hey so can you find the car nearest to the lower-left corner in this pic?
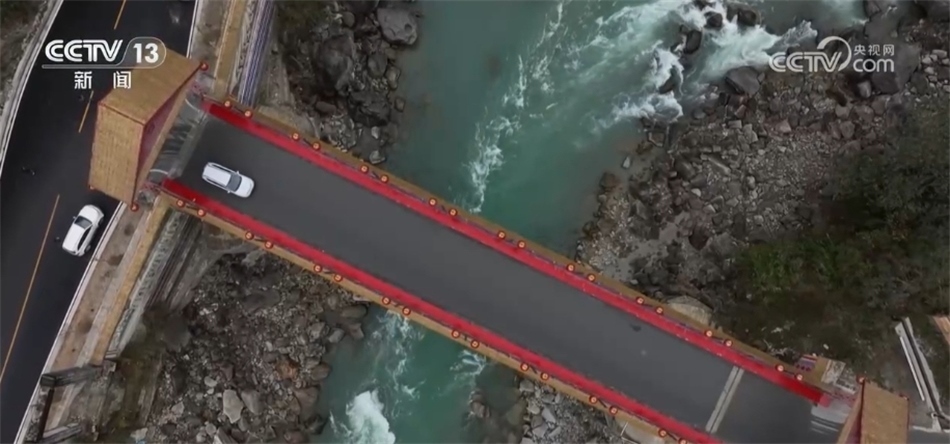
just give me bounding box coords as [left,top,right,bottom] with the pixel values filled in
[63,204,109,258]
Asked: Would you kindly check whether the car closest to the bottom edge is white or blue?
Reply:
white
